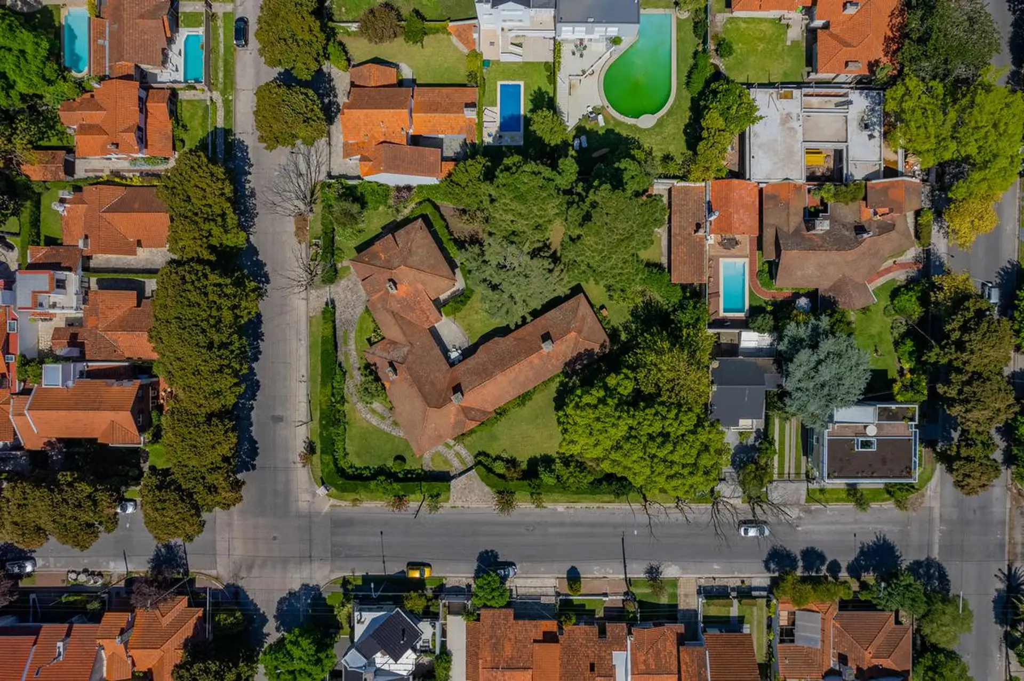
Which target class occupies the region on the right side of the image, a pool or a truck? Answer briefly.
pool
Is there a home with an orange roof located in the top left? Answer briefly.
Yes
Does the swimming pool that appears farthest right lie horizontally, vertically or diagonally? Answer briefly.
vertically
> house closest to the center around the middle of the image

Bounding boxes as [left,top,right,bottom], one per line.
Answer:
[350,218,610,458]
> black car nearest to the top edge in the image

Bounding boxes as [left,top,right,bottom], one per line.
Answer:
[234,17,250,48]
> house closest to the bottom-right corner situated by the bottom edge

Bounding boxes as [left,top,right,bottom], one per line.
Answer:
[823,605,912,681]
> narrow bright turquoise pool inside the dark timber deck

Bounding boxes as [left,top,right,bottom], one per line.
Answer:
[719,258,748,315]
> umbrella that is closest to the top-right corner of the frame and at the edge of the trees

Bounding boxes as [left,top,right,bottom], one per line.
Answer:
[792,295,810,310]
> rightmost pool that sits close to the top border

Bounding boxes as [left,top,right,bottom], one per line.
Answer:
[599,9,676,122]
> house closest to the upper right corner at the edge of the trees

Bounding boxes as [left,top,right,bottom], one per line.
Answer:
[802,0,903,78]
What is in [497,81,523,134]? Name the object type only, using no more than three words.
swimming pool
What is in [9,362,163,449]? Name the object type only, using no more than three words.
house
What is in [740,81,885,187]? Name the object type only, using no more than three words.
building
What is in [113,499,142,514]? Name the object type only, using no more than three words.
car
